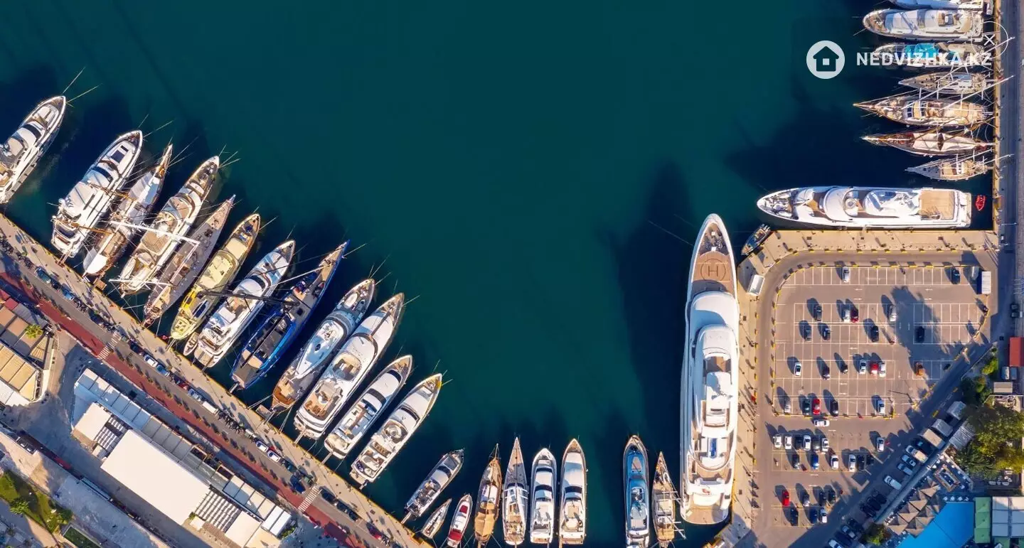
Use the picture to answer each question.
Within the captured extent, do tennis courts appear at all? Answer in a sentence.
No, the picture doesn't show any tennis court.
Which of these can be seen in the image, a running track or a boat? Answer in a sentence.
Looking from above, you can make out a boat.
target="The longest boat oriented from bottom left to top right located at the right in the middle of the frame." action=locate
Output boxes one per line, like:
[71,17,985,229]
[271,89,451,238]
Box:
[742,222,773,254]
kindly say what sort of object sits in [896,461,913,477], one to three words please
car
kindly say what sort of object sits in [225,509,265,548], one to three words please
building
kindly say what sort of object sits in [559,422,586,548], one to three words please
boat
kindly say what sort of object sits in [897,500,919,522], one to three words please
umbrella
